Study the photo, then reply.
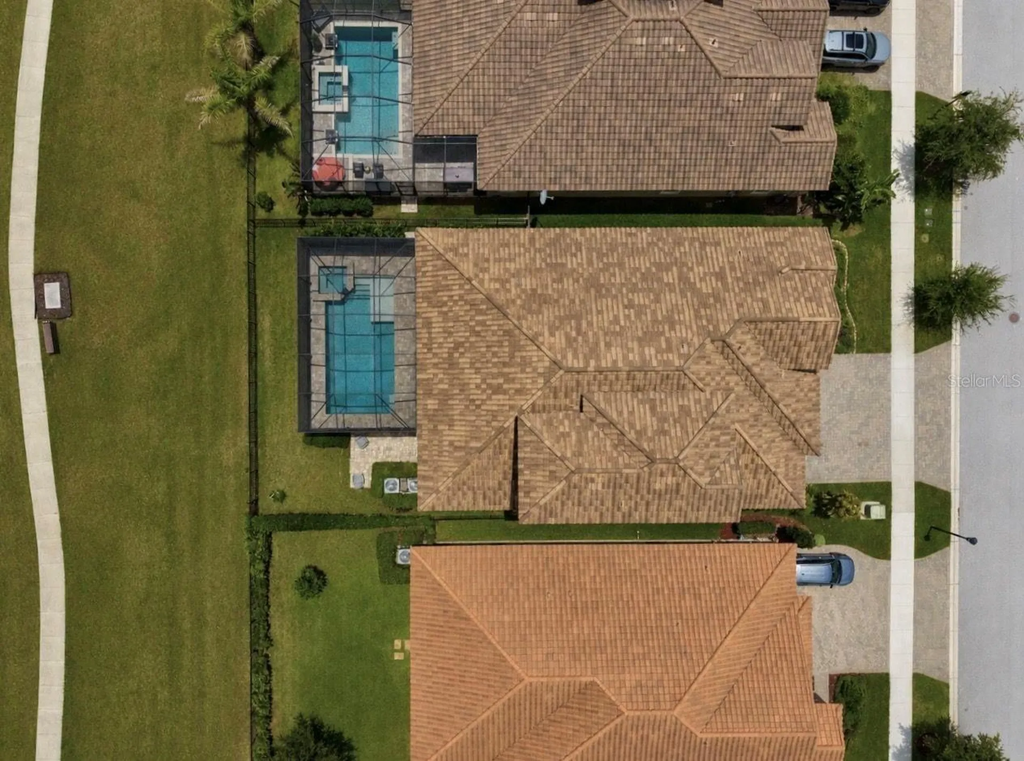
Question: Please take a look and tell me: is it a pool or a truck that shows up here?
pool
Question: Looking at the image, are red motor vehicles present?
No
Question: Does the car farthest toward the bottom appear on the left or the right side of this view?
right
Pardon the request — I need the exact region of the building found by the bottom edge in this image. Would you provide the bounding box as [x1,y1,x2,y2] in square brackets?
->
[408,540,850,761]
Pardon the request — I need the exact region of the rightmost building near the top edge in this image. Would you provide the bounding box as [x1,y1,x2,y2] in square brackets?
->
[412,0,840,197]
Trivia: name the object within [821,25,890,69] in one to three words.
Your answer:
car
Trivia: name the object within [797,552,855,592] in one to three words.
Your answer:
car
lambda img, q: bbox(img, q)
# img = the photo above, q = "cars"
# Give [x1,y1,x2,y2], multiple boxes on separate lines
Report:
[829,0,888,15]
[797,552,855,592]
[821,25,890,69]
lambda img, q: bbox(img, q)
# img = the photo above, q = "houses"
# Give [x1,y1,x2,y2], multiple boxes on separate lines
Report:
[414,226,842,525]
[408,540,850,761]
[412,0,840,197]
